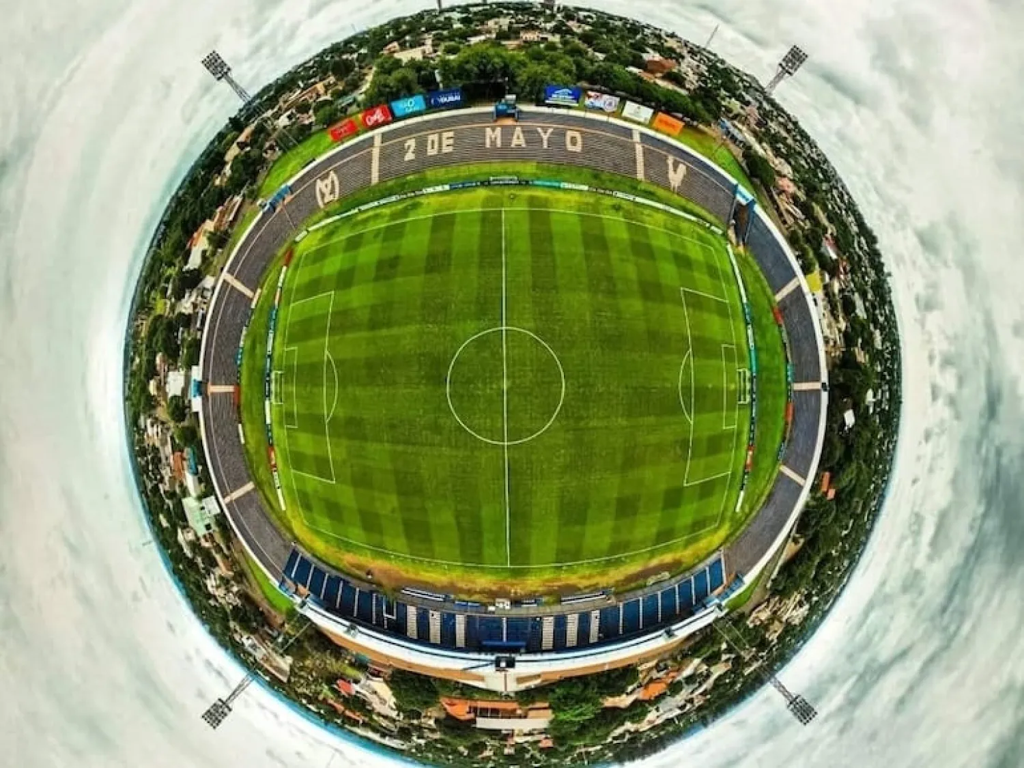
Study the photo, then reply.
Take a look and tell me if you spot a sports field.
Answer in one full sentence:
Yes, I can see a sports field in this picture.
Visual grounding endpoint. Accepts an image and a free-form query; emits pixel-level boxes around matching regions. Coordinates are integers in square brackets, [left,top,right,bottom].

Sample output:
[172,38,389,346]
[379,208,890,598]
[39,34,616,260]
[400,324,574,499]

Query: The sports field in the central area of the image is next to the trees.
[280,205,740,569]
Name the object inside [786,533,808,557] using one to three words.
house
